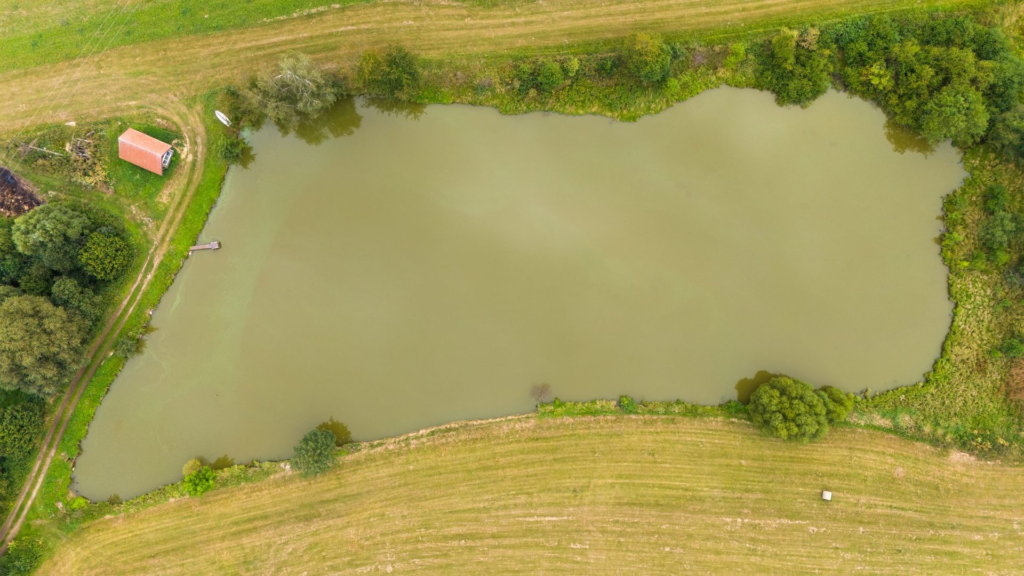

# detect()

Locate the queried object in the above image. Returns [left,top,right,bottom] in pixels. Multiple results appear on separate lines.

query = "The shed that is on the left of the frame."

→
[118,128,179,175]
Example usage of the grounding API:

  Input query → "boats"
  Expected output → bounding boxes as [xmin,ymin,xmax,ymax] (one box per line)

[214,110,233,128]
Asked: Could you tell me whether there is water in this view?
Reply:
Yes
